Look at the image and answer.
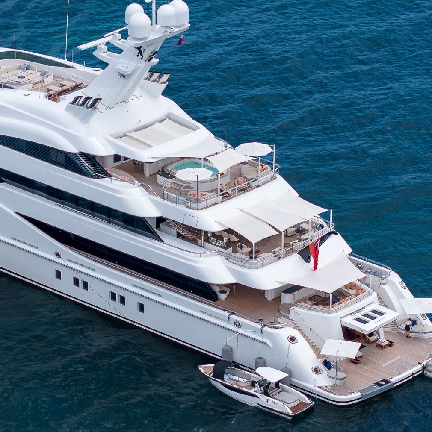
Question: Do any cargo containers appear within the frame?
No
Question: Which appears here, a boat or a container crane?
boat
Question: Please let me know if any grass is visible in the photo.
No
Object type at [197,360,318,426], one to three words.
boat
